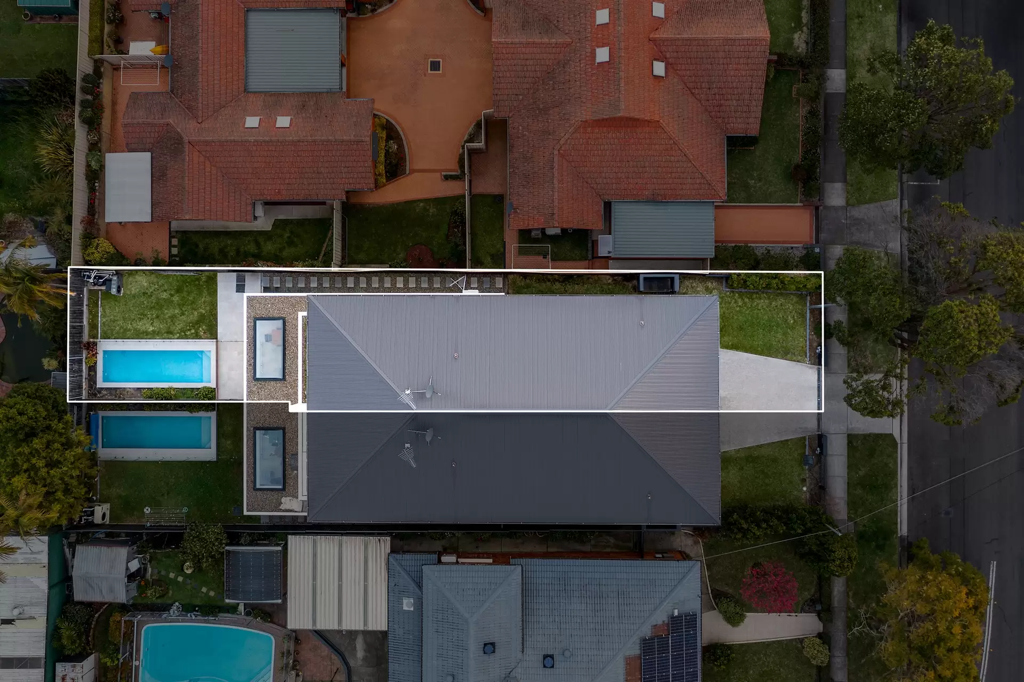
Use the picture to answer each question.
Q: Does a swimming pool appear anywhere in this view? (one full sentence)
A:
Yes, there's a swimming pool down there.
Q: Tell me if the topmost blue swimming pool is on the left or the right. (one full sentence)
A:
It is on the left.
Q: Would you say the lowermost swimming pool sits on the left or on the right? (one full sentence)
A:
It is on the left.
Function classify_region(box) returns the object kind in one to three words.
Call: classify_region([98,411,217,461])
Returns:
swimming pool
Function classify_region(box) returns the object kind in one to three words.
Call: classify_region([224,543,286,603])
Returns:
shed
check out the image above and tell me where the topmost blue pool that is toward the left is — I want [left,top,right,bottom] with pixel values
[98,340,217,388]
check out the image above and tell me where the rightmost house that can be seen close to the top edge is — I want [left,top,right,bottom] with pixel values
[492,0,770,231]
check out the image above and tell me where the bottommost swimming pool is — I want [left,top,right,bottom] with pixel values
[138,621,275,682]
